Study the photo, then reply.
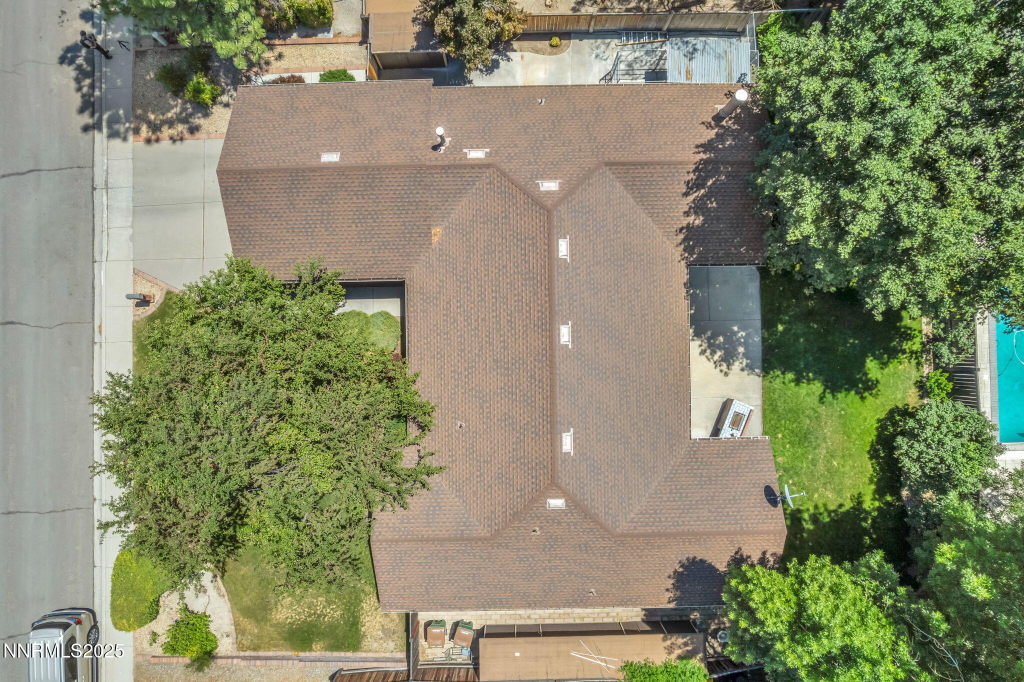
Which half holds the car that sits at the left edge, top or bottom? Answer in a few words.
bottom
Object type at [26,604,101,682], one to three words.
car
